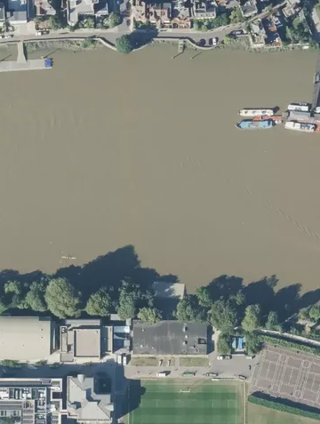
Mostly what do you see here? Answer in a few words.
water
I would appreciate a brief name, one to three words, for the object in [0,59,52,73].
pier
